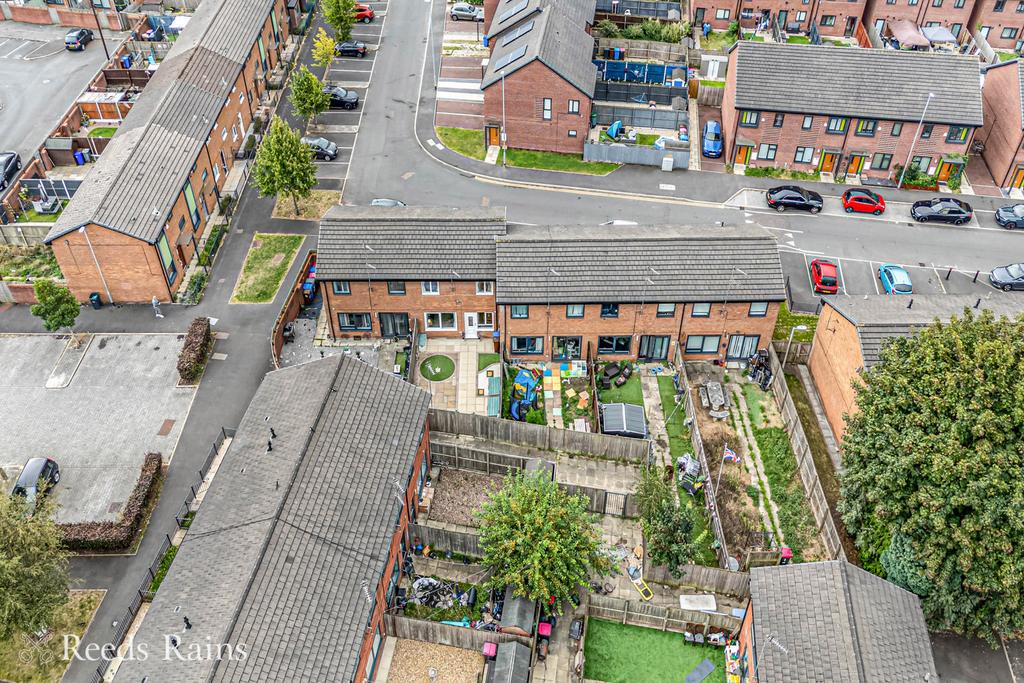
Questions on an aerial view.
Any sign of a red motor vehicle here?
Yes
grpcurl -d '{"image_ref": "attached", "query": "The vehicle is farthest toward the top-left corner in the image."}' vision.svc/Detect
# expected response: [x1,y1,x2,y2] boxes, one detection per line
[65,30,94,51]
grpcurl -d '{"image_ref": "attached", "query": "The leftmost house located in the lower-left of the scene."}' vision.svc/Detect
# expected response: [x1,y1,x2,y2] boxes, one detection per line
[111,356,433,683]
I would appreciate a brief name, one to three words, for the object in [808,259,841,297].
car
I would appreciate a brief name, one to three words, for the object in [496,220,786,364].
house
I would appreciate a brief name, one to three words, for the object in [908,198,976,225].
car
